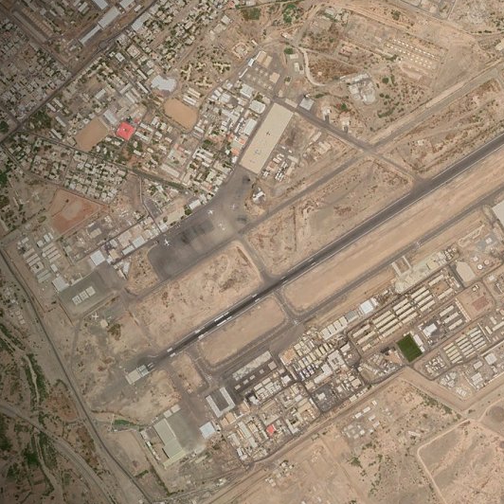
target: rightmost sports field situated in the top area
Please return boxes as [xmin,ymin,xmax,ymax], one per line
[164,98,197,129]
